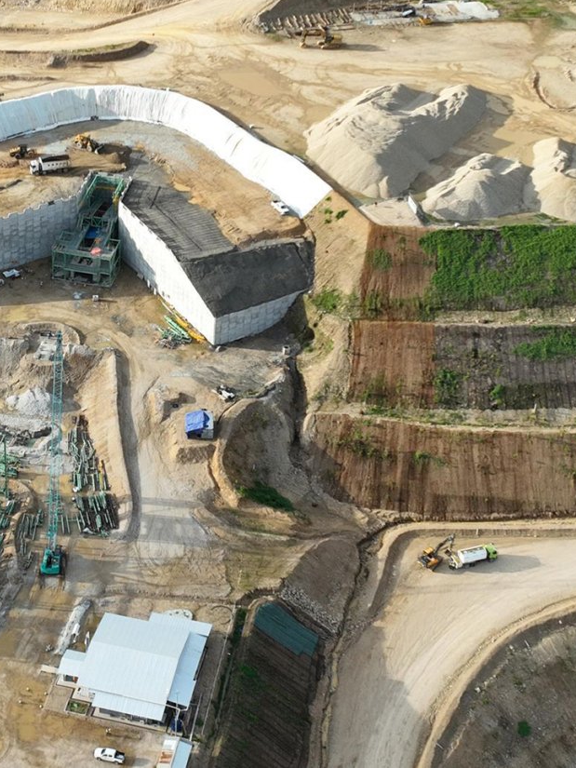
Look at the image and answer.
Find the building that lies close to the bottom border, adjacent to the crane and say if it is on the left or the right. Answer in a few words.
left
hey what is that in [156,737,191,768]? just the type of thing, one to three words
shed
